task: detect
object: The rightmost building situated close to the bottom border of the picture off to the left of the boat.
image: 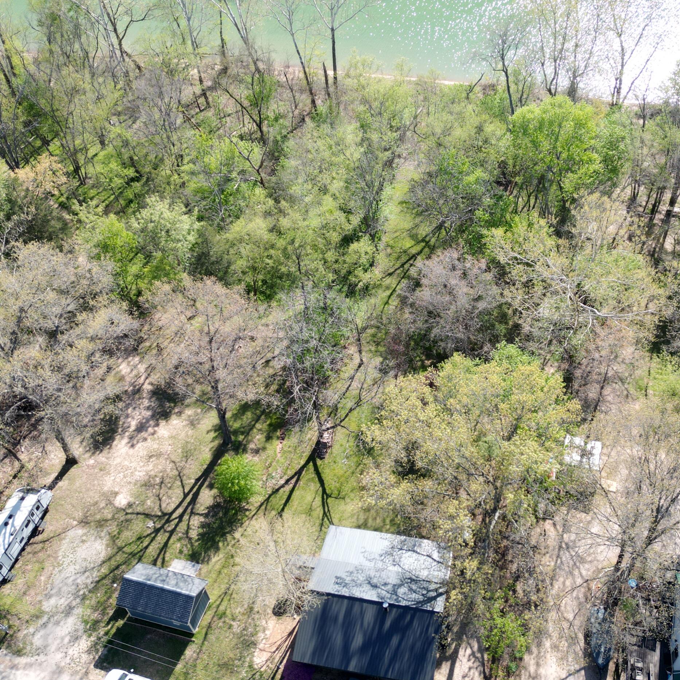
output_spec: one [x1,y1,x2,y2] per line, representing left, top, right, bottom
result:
[285,527,454,680]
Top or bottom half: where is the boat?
bottom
